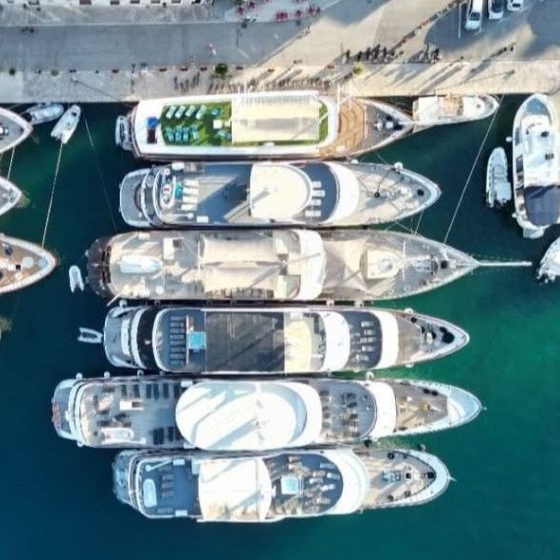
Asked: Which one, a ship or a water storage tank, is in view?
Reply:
ship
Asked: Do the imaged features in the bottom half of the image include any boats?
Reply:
Yes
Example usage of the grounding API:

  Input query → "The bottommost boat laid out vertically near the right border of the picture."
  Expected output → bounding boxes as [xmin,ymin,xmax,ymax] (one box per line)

[536,239,560,286]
